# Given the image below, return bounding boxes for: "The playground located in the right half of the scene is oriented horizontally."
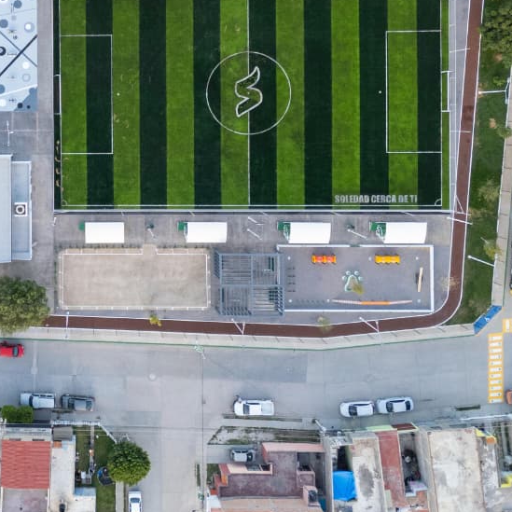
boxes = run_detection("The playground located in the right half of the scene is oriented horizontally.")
[276,245,435,314]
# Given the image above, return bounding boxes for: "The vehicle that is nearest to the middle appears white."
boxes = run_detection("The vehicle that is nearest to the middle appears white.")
[232,399,274,416]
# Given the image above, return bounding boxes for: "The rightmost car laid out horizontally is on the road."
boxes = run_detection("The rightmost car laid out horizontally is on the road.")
[374,397,413,414]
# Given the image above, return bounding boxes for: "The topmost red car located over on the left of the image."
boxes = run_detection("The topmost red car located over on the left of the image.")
[0,342,24,358]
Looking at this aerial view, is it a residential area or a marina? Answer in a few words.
residential area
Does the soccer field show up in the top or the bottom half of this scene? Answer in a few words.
top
